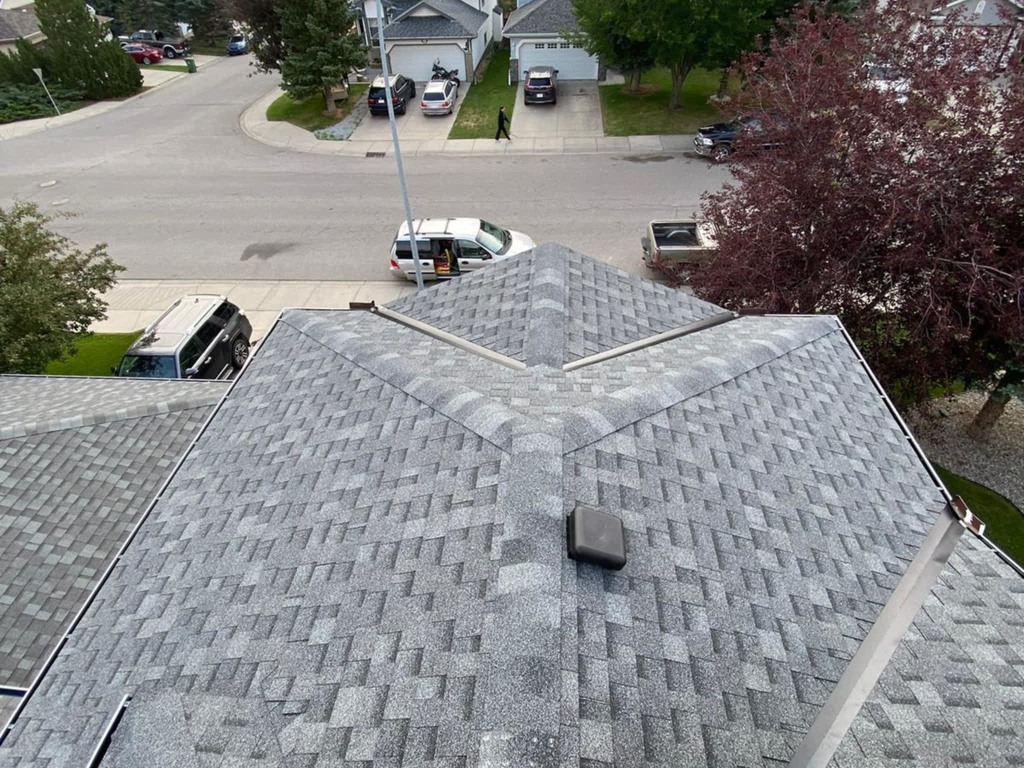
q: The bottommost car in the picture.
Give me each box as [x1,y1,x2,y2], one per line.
[112,295,255,378]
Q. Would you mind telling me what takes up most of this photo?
buildings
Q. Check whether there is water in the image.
No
